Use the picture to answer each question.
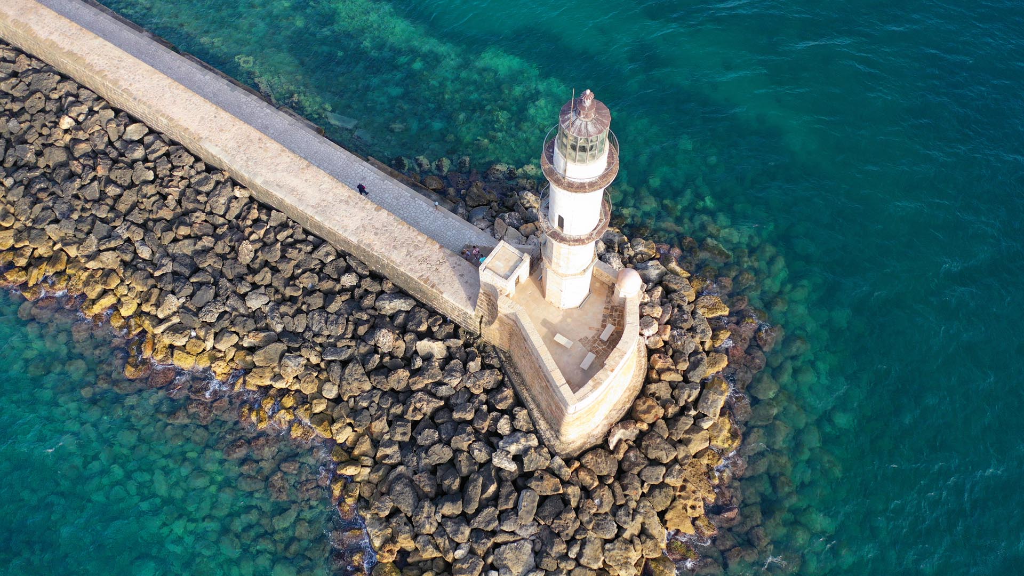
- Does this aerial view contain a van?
No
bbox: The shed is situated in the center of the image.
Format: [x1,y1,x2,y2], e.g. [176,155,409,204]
[480,239,529,297]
